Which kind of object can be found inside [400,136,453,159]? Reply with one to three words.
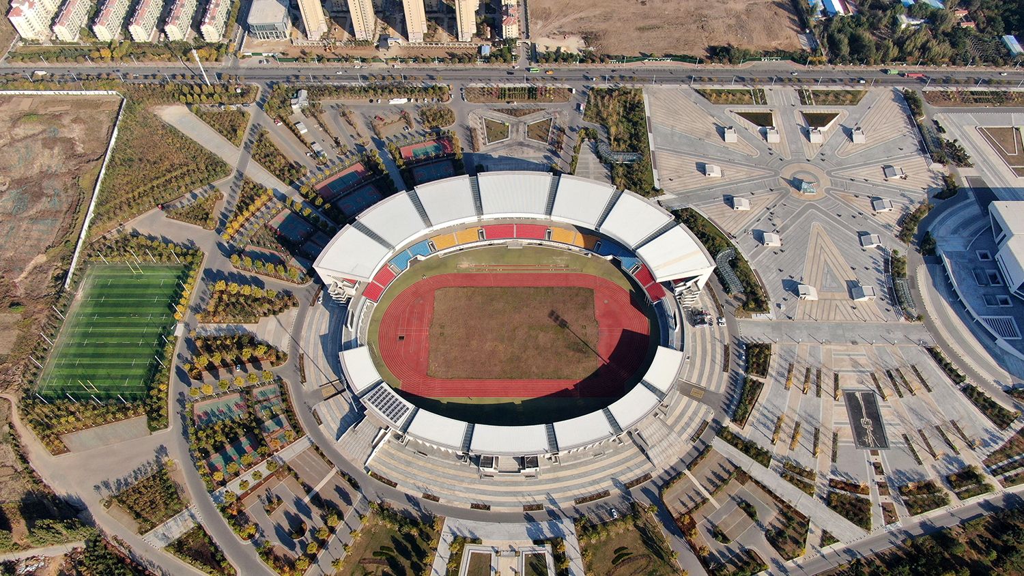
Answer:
tennis court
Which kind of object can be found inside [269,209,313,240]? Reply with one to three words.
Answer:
basketball court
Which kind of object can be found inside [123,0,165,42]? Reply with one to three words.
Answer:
building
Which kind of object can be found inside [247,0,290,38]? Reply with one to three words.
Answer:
building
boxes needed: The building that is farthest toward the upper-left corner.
[1,0,57,41]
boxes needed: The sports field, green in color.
[36,262,187,402]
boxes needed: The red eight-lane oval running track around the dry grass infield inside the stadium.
[376,273,651,398]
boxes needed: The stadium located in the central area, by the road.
[313,170,715,476]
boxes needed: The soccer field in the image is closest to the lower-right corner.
[427,287,599,380]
